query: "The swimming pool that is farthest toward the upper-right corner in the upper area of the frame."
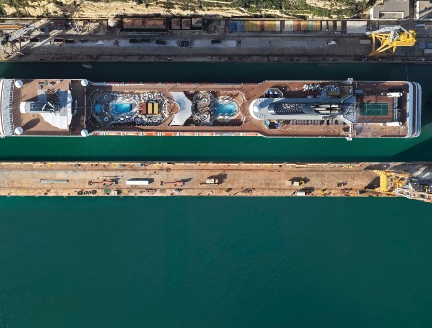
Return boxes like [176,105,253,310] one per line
[215,100,237,117]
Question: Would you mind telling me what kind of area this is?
port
